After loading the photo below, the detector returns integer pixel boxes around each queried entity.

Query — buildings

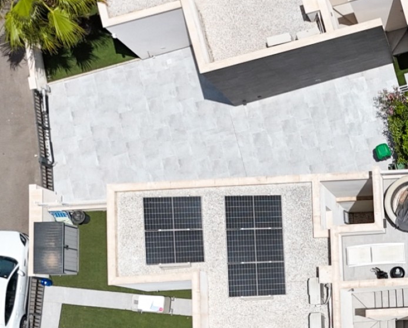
[97,0,408,105]
[107,166,408,328]
[33,222,83,276]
